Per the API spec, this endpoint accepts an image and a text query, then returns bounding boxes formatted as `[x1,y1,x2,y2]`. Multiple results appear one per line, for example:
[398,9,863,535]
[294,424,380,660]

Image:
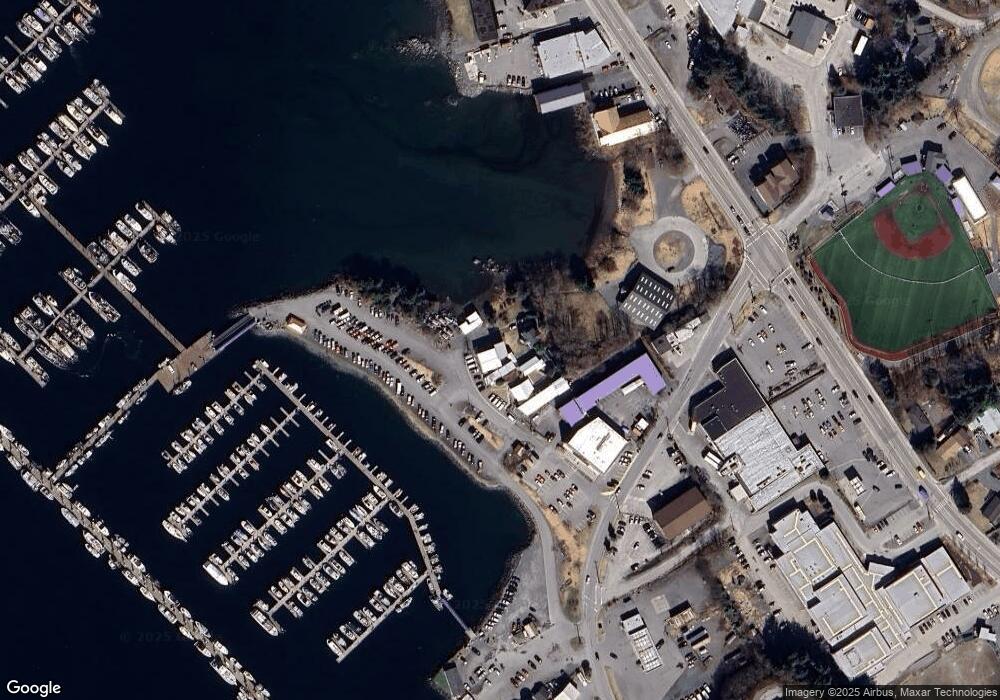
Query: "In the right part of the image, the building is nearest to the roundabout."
[619,273,675,330]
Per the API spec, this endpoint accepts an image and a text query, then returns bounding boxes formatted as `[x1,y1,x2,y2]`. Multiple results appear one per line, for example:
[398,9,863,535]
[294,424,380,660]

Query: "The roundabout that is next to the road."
[632,216,709,278]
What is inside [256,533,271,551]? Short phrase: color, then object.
gray boat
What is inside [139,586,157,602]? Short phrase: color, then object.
white boat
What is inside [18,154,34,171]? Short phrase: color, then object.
gray boat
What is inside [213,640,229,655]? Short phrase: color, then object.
white boat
